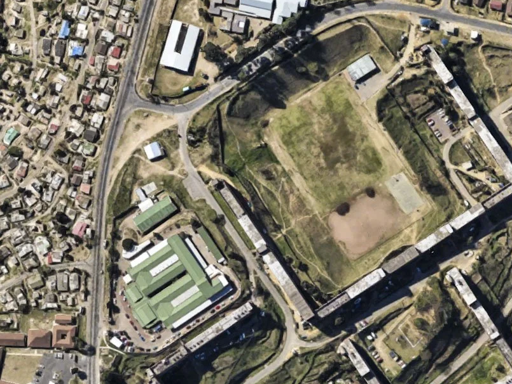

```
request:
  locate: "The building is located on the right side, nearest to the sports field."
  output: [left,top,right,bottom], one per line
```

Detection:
[347,53,378,81]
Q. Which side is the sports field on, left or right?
right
